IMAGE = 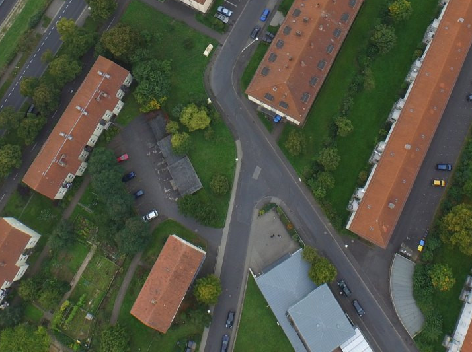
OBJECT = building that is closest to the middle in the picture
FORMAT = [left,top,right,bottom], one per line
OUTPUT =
[168,156,203,196]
